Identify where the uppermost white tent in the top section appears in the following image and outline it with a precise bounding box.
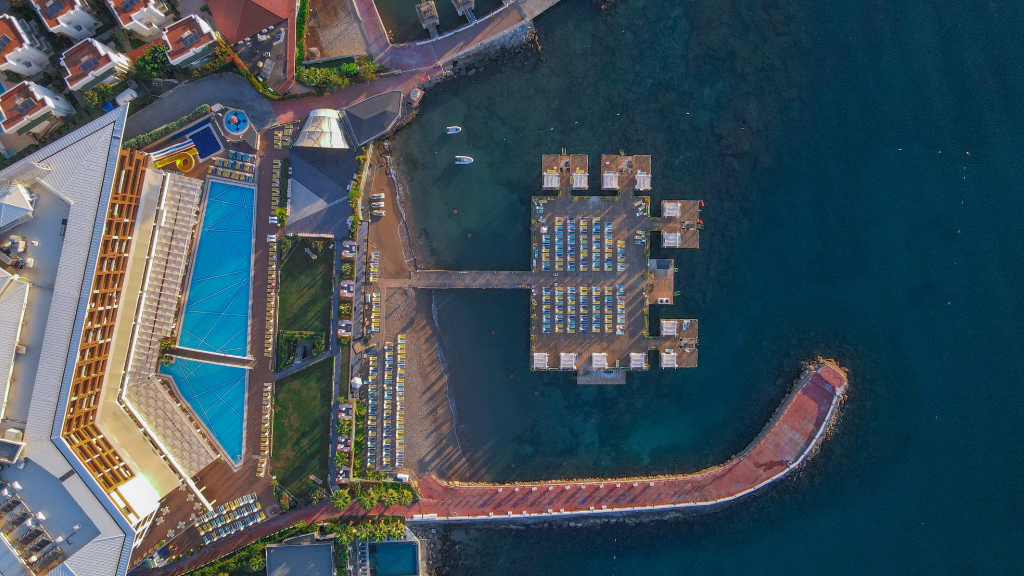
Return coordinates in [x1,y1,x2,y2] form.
[289,104,356,151]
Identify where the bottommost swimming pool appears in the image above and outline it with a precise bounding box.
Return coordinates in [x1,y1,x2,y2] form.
[374,541,419,576]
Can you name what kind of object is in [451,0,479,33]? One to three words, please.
pier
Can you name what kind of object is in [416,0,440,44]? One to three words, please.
pier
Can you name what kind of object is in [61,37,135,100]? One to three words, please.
house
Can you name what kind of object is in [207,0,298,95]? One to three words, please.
building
